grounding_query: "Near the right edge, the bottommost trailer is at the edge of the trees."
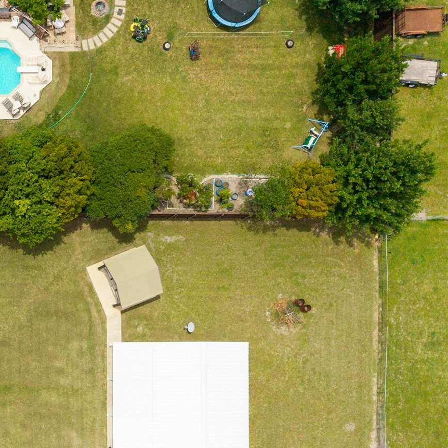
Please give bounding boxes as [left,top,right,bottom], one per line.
[399,53,448,88]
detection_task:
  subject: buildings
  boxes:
[105,342,248,448]
[94,245,163,312]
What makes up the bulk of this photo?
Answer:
grass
